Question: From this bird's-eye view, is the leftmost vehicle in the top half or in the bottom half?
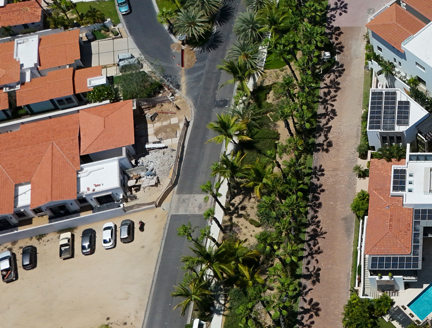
bottom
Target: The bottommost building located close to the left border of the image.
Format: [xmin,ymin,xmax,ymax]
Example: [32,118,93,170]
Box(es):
[0,99,139,228]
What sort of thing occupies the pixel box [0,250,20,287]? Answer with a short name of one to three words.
vehicle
